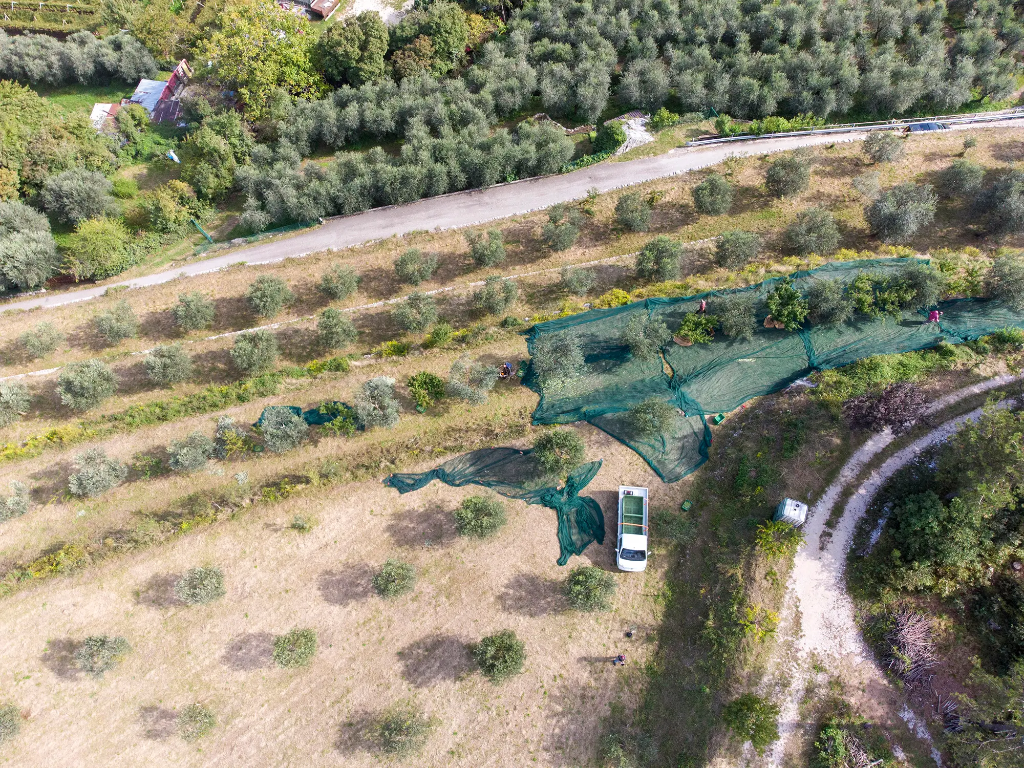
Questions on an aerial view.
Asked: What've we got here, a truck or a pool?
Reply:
truck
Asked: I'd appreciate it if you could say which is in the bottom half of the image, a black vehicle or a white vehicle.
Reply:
white vehicle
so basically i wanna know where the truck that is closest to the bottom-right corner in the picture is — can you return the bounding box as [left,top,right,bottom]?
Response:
[613,484,654,573]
